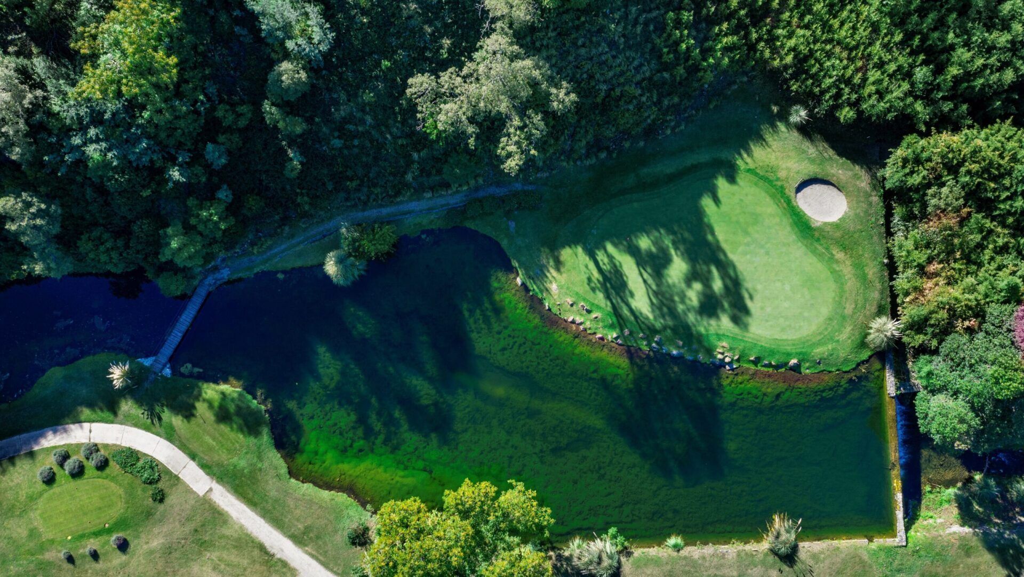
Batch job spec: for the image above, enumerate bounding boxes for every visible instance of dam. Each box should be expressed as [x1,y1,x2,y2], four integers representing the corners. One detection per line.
[883,347,906,546]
